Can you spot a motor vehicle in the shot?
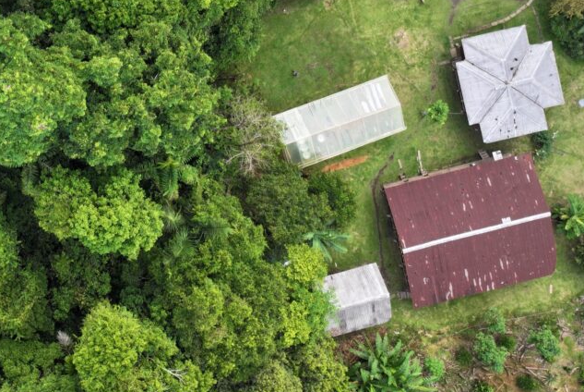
No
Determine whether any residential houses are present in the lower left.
No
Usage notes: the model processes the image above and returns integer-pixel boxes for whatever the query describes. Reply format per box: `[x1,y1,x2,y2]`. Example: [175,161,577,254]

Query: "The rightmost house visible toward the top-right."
[455,28,567,143]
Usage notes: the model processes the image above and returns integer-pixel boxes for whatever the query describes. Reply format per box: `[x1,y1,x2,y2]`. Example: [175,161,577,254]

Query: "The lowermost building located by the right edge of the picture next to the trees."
[379,153,556,306]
